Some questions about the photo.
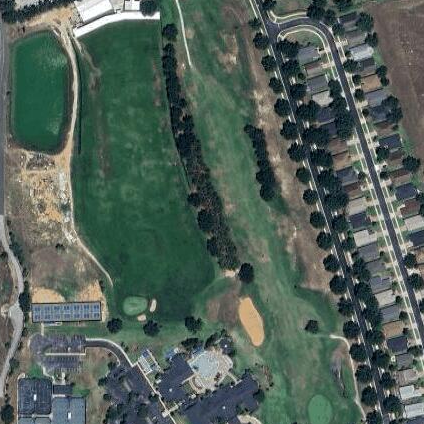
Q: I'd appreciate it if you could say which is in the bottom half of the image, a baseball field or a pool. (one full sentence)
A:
What appears in the bottom half of the image is a pool.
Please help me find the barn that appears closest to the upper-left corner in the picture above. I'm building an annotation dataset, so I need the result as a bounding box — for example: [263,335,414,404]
[75,0,112,21]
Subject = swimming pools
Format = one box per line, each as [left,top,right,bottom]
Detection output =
[189,345,233,393]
